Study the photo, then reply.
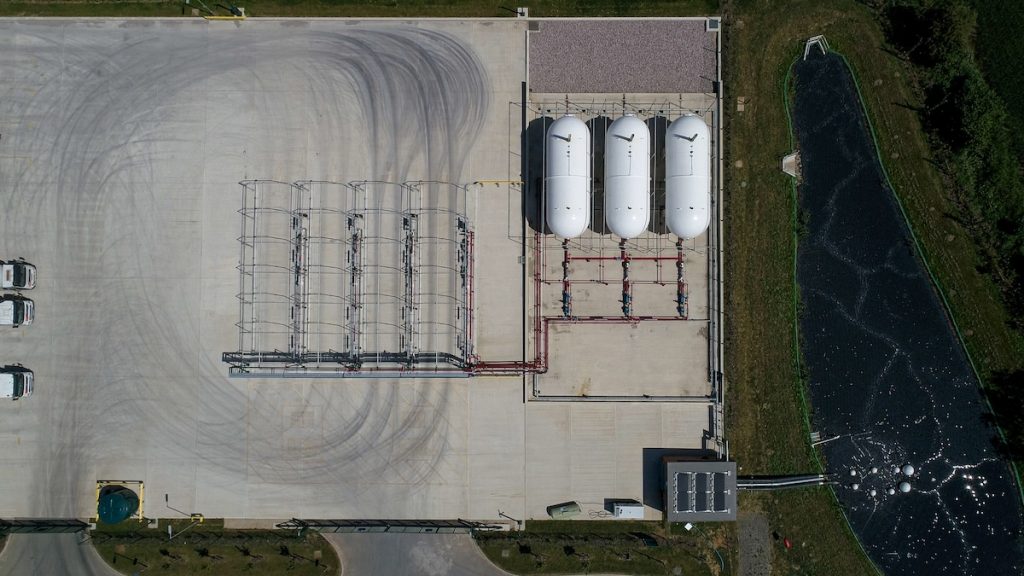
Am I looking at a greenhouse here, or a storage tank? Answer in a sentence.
Visible in the photo is a storage tank.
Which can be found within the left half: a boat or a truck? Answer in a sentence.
You can see a truck within the left half.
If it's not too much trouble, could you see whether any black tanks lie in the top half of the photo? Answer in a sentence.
No, looking in the top half of the photo, there is no black tank.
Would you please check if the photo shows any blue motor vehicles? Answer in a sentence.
No, there's no blue motor vehicle here.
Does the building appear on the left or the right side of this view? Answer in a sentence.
The building is on the right side of the image.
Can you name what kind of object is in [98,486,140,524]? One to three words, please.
storage tank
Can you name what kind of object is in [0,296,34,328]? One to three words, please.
truck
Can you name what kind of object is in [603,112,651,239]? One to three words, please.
storage tank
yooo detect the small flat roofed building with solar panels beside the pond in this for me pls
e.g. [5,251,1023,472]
[662,456,736,521]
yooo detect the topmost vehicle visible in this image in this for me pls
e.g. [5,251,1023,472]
[0,259,35,291]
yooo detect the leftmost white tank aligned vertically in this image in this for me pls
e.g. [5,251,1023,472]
[545,112,590,239]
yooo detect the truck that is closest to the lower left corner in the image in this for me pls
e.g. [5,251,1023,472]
[0,370,34,402]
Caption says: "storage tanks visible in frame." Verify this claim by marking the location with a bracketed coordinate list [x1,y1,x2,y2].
[545,112,590,239]
[603,112,651,239]
[660,112,712,239]
[98,486,140,524]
